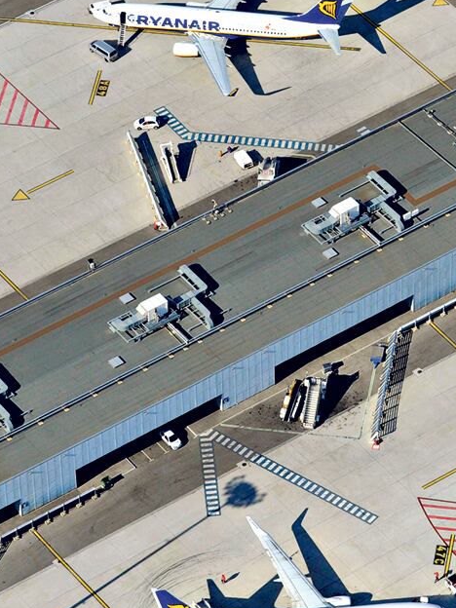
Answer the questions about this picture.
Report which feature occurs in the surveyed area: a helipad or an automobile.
automobile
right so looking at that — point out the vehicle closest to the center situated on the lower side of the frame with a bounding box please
[281,373,302,417]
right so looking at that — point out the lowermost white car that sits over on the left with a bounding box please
[158,427,185,452]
